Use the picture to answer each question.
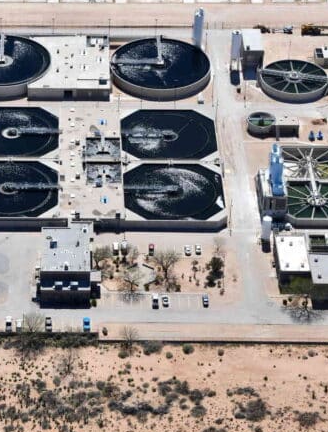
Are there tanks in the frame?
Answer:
Yes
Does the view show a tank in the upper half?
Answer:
Yes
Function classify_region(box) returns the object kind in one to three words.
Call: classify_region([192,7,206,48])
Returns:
silo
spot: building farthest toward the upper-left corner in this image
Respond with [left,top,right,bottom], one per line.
[22,34,110,97]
